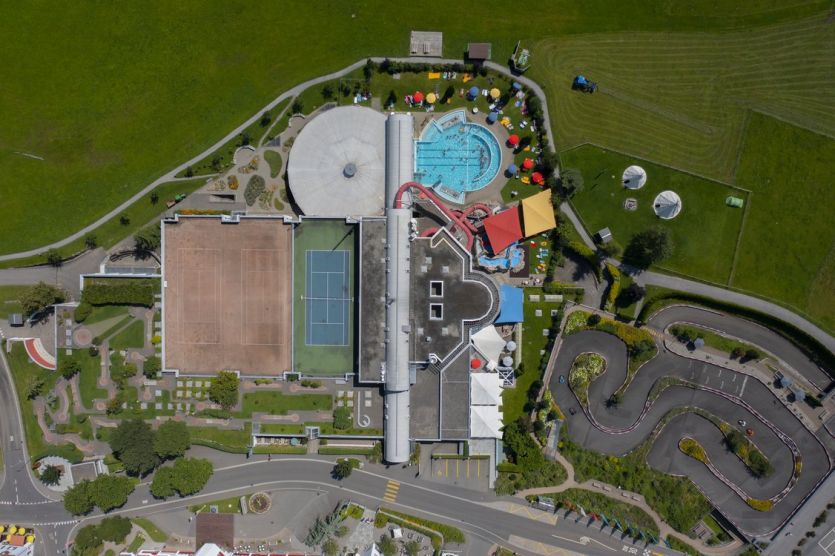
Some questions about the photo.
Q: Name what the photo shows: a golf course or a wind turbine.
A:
golf course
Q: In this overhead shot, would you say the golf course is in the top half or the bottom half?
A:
bottom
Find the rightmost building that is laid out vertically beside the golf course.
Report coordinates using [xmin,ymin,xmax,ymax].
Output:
[411,220,501,440]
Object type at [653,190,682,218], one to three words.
tent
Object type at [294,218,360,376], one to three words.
tennis court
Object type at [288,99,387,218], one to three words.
building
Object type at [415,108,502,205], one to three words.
swimming pool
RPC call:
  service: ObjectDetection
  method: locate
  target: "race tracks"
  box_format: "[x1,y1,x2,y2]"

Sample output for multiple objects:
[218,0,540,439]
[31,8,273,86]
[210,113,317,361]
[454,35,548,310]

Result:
[548,304,835,537]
